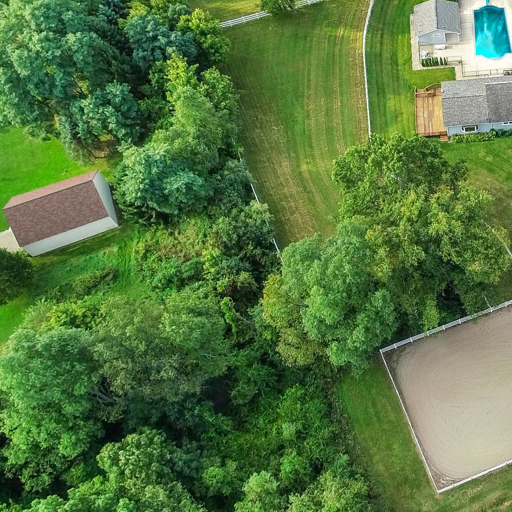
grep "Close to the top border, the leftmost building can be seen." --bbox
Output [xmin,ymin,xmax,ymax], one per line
[416,0,461,43]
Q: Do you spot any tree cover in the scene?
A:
Yes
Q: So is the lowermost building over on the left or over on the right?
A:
left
